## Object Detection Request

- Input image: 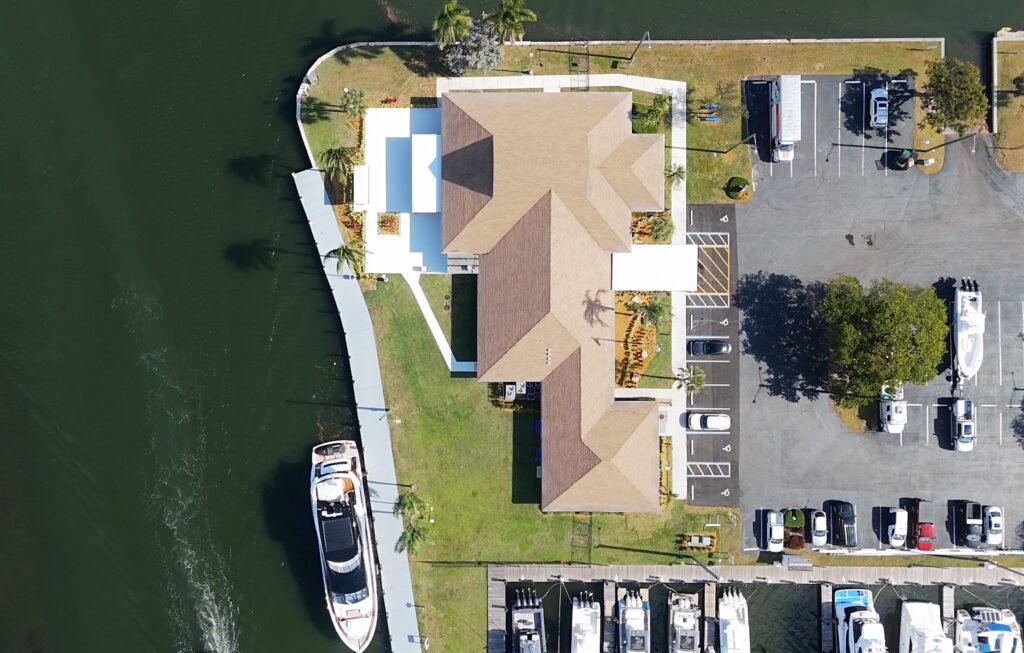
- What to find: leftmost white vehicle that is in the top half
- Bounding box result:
[769,74,801,164]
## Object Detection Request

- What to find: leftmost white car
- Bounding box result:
[688,413,731,434]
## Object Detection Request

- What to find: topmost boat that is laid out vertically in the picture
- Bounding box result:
[953,275,986,386]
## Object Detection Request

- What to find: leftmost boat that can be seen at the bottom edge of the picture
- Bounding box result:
[311,439,382,653]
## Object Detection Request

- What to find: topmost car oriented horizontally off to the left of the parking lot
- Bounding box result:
[690,338,731,358]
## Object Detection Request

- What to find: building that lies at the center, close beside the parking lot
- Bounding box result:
[440,91,665,513]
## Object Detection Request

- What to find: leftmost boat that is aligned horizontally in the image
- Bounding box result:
[318,446,347,459]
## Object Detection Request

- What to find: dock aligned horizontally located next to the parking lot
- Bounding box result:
[506,566,1024,587]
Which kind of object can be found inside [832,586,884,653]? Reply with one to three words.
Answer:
boat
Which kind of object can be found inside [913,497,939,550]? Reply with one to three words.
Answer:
truck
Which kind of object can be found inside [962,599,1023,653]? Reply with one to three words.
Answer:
boat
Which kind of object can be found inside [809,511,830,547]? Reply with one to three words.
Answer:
car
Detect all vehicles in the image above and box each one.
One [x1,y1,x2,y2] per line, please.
[868,88,892,128]
[951,399,977,451]
[885,508,910,547]
[984,507,1006,546]
[962,501,987,549]
[809,511,830,547]
[913,497,939,550]
[688,413,731,434]
[878,383,905,433]
[833,501,859,551]
[769,74,801,164]
[765,510,788,553]
[690,338,731,358]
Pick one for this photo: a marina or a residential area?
marina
